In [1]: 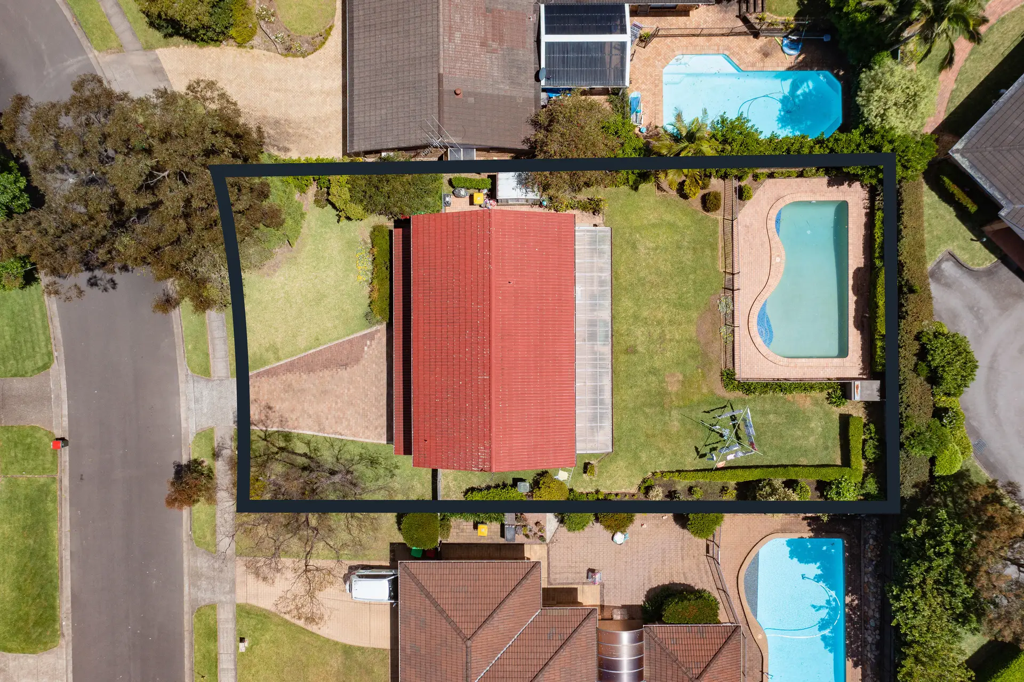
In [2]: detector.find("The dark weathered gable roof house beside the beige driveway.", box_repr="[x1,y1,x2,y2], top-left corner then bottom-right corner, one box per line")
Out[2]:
[345,0,541,166]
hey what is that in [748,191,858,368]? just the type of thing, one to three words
swimming pool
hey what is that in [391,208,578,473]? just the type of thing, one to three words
house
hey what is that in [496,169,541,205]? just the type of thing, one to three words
shed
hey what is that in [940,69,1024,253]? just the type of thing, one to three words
house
